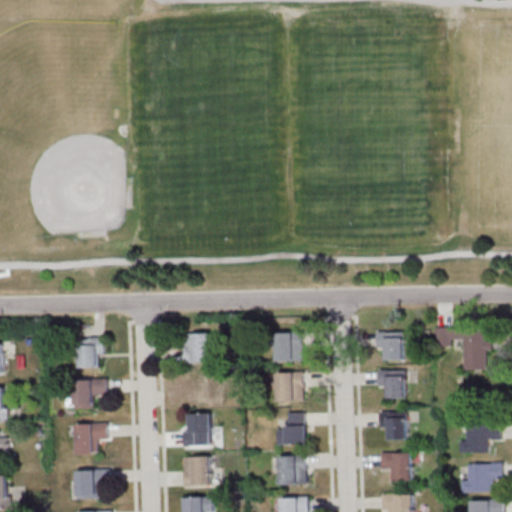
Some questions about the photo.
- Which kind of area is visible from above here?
sports ground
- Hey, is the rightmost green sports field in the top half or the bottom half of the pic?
top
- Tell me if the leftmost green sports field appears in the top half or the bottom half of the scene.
top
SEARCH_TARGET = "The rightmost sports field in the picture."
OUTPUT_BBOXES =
[459,23,512,232]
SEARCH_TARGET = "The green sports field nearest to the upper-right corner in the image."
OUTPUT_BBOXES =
[294,13,446,248]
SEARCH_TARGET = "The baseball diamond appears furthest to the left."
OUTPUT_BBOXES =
[30,134,127,234]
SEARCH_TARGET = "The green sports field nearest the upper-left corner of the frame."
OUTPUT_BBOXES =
[132,14,292,250]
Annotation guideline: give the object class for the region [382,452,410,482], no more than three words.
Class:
house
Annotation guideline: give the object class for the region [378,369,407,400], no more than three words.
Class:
house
